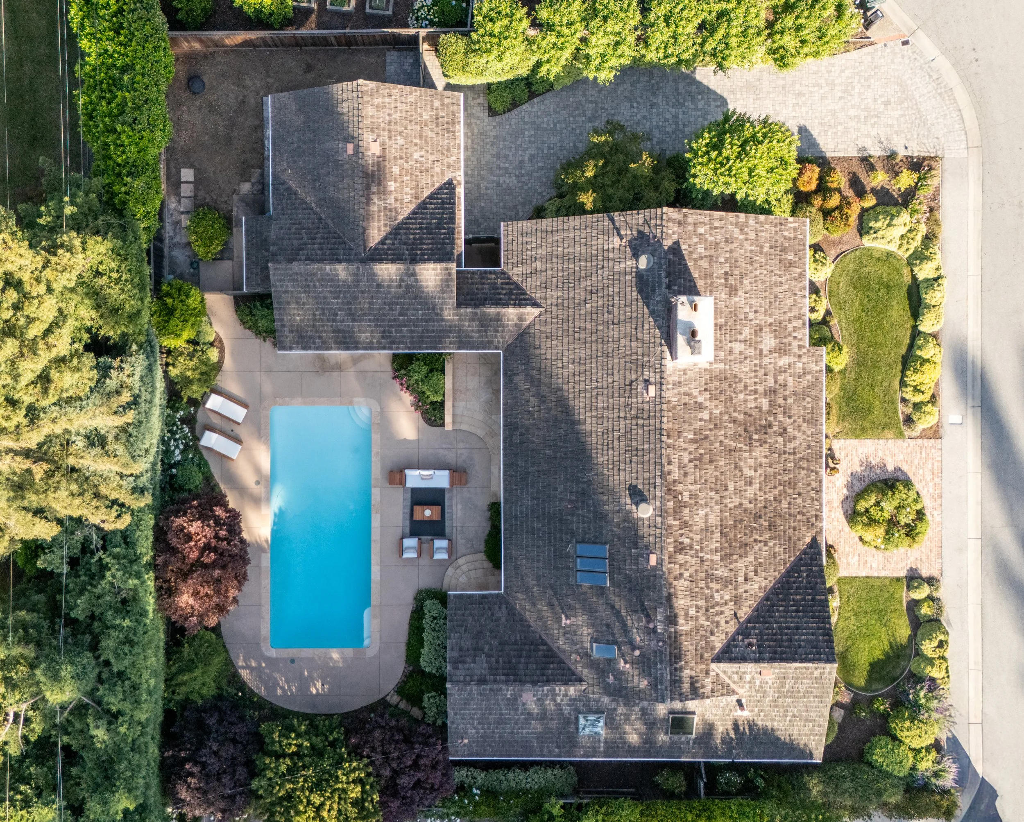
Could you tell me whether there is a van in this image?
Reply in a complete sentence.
No, no van is visible in the view.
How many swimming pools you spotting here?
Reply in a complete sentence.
Just 1 swimming pool appears in this view.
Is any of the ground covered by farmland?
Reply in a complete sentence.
No, no farmland is visible.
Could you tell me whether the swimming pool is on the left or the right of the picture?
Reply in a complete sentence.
It is on the left.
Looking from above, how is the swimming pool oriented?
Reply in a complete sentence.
What the image shows is the swimming pool lying up and down.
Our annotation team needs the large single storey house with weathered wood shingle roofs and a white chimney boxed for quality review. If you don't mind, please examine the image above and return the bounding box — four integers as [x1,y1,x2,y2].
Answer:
[242,82,837,763]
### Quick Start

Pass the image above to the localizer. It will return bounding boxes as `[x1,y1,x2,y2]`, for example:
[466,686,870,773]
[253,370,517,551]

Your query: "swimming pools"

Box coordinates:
[270,405,372,649]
